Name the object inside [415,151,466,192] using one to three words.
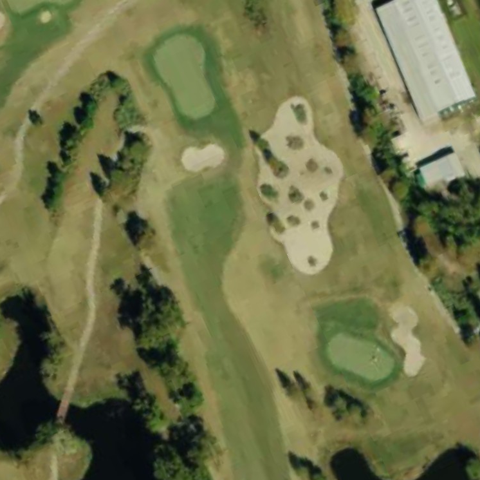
shed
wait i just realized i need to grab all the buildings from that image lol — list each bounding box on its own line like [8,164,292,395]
[415,151,466,192]
[366,0,478,127]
